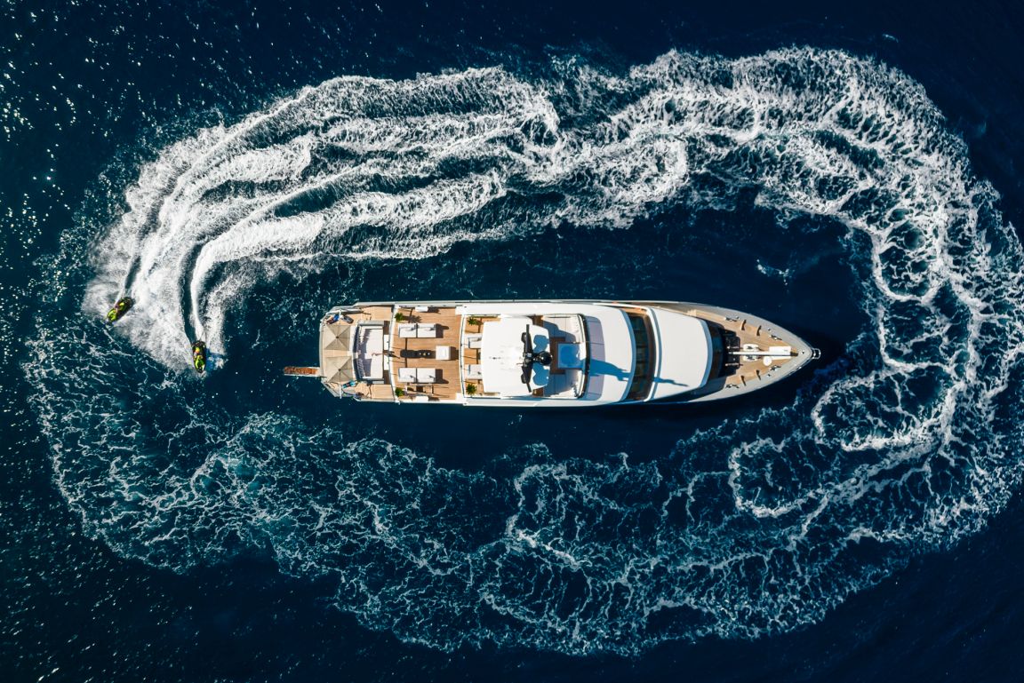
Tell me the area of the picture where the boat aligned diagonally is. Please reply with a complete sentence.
Look in the left portion of the view to spot the boat aligned diagonally.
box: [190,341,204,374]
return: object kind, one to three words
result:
boat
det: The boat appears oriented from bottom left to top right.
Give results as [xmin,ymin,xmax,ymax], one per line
[103,295,133,320]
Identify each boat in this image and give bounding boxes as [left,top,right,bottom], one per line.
[103,295,133,320]
[284,300,821,407]
[190,341,204,374]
